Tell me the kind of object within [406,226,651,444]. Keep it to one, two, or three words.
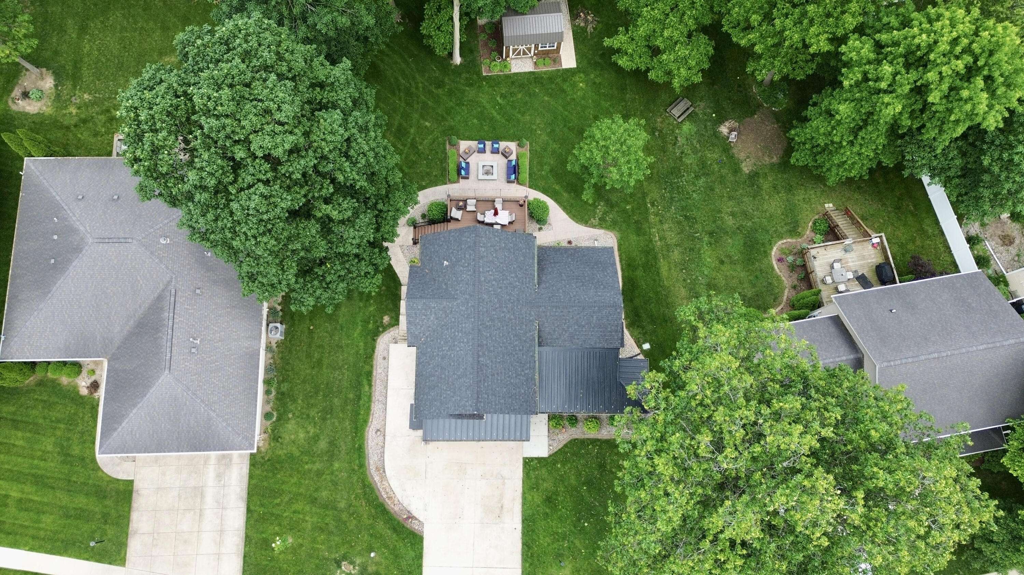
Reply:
house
